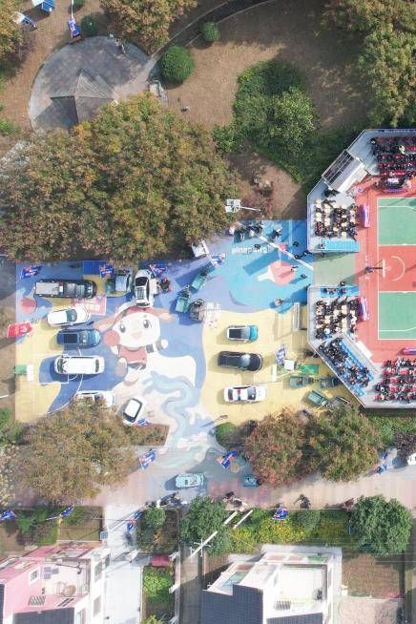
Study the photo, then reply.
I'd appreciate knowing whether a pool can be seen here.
No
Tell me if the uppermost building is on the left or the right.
left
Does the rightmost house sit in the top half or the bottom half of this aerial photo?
bottom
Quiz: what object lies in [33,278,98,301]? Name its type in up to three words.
truck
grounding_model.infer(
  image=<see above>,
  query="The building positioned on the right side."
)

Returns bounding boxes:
[204,542,334,624]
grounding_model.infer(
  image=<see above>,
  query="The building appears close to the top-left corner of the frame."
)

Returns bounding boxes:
[37,58,111,127]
